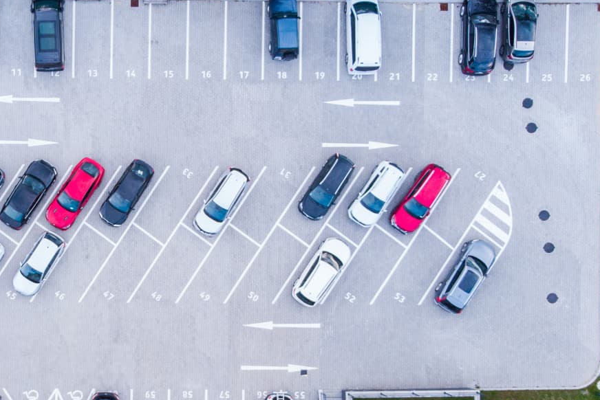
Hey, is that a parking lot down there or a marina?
parking lot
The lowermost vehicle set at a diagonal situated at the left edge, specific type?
automobile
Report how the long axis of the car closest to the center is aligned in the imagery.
at an angle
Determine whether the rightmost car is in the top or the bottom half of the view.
top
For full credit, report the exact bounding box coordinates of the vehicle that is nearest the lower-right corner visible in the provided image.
[431,237,494,316]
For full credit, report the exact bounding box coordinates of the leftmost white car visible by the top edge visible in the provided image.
[345,0,385,75]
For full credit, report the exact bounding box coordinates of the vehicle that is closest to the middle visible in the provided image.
[296,152,355,221]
